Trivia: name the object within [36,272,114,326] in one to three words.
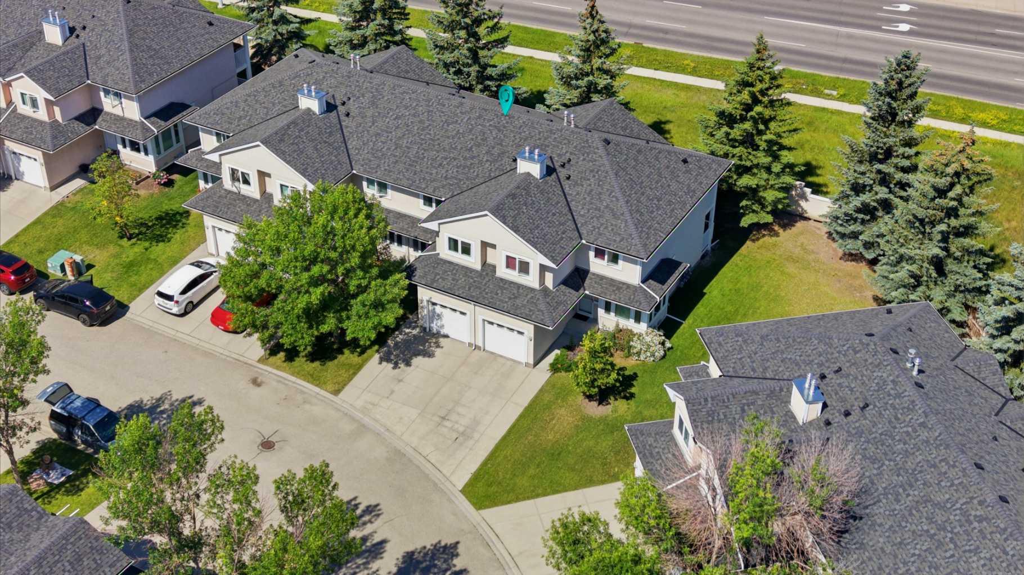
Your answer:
car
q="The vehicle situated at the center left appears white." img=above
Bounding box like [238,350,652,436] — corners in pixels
[157,259,229,307]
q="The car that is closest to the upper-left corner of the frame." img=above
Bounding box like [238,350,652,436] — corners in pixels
[0,252,31,293]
